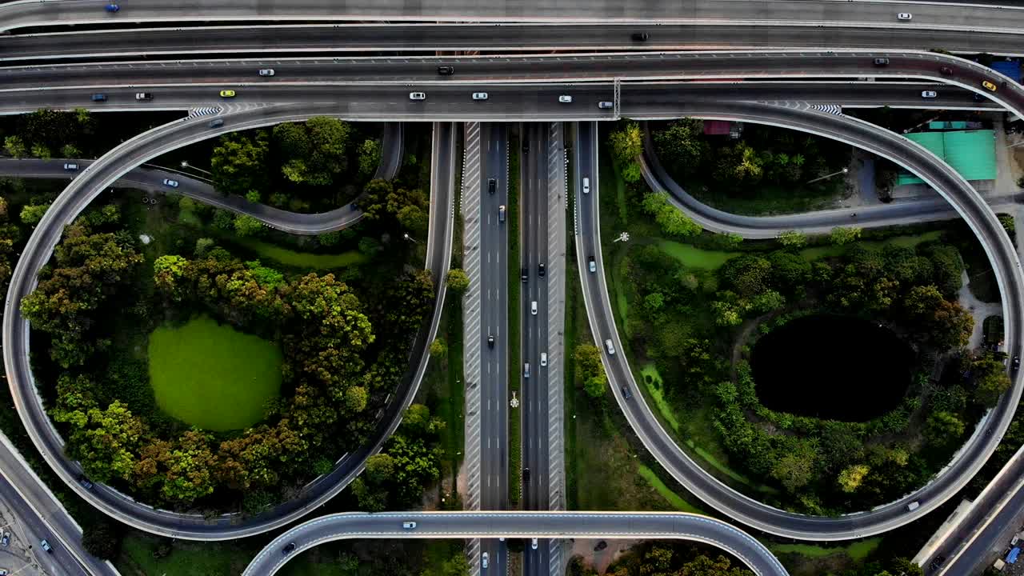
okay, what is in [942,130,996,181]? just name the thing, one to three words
building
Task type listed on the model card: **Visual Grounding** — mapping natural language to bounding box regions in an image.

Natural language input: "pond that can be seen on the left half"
[149,317,283,431]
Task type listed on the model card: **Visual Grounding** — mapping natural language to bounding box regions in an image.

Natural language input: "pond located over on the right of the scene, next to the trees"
[750,313,915,422]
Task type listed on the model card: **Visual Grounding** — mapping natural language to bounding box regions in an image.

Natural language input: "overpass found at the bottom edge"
[243,509,788,576]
